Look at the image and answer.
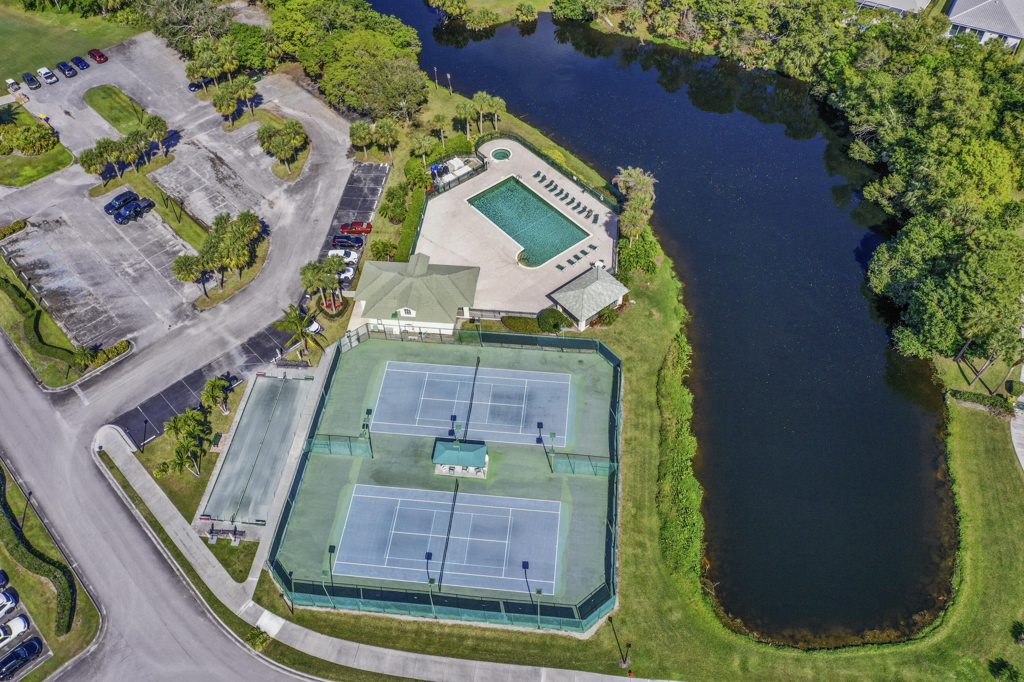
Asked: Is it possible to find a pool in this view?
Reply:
Yes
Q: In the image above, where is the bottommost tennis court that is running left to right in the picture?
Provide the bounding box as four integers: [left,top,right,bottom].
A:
[274,453,618,632]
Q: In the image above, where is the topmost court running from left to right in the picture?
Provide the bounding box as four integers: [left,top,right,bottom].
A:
[315,338,621,478]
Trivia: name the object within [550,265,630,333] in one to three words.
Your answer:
building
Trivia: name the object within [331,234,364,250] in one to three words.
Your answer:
car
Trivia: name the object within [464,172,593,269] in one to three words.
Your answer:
swimming pool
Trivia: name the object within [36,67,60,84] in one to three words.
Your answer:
vehicle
